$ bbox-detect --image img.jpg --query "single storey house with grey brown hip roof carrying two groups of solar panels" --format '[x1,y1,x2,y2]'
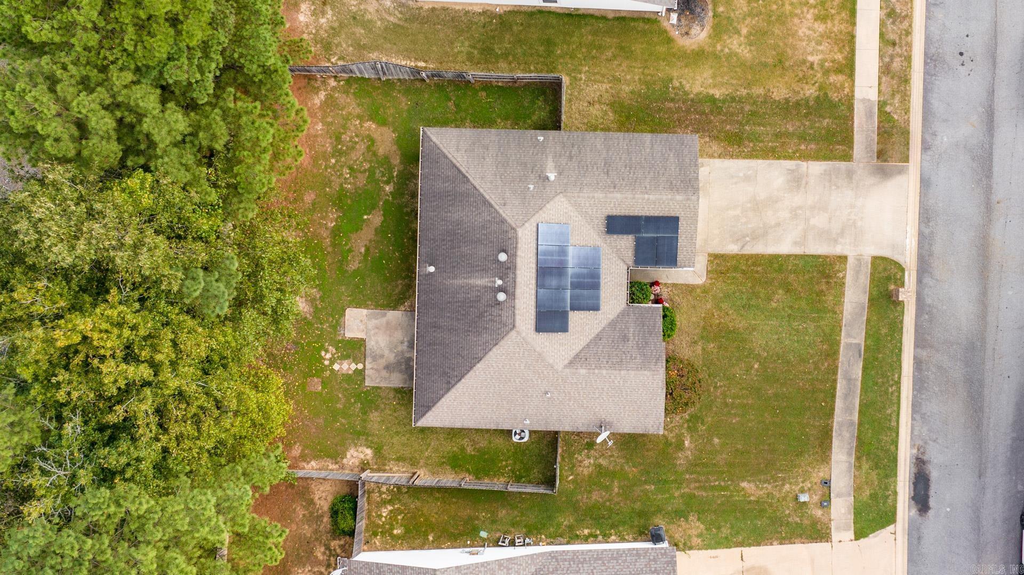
[412,127,699,434]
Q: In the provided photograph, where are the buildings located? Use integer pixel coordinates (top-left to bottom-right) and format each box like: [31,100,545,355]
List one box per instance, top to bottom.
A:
[419,0,677,21]
[412,127,699,434]
[342,543,678,575]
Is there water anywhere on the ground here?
No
